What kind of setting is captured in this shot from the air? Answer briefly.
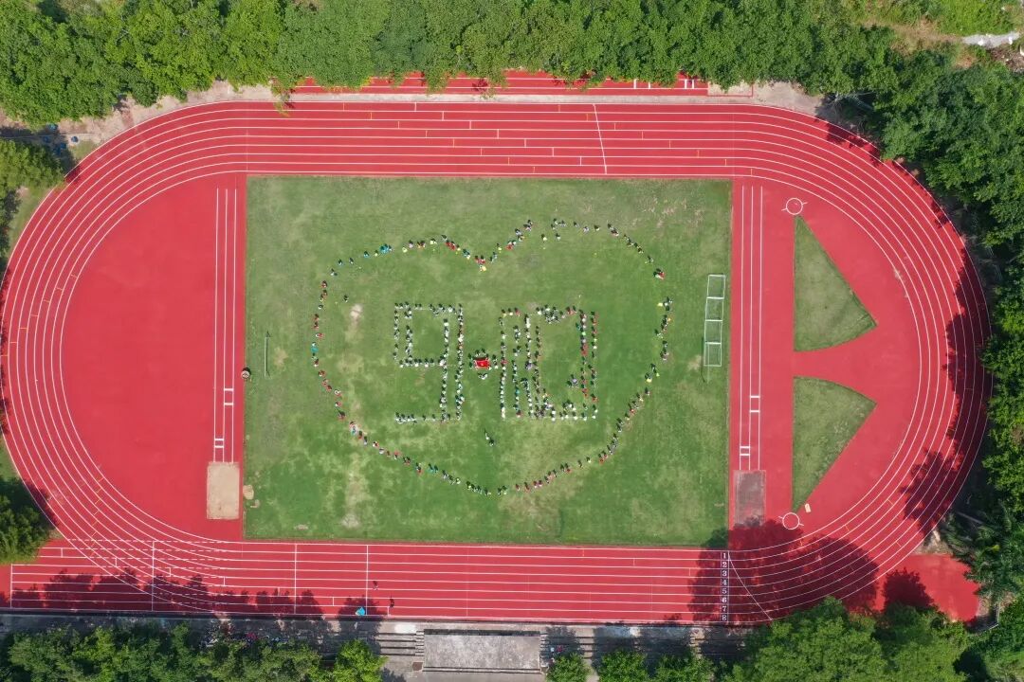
sports ground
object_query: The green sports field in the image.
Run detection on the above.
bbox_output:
[243,175,732,548]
